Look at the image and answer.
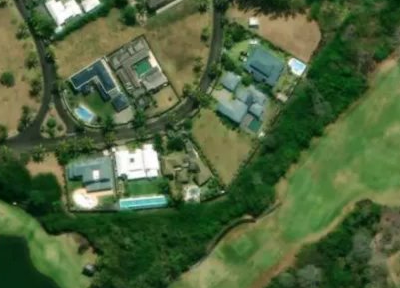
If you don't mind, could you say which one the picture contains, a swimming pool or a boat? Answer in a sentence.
Looking from above, you can make out a swimming pool.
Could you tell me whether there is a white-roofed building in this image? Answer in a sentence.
Yes, a white-roofed building appears in the view.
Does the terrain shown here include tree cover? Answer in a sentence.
Yes, the picture does contain tree cover.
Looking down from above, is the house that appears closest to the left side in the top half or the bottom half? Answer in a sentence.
The top half of the photo is where the house that appears closest to the left side is.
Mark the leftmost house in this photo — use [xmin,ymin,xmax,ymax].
[45,0,81,25]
